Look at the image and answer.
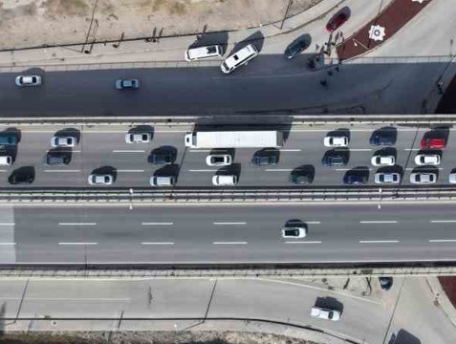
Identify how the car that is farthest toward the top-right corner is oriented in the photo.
at an angle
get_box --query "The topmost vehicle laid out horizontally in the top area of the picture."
[186,44,226,61]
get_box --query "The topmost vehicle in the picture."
[326,5,350,31]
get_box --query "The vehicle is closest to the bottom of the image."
[312,305,341,321]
